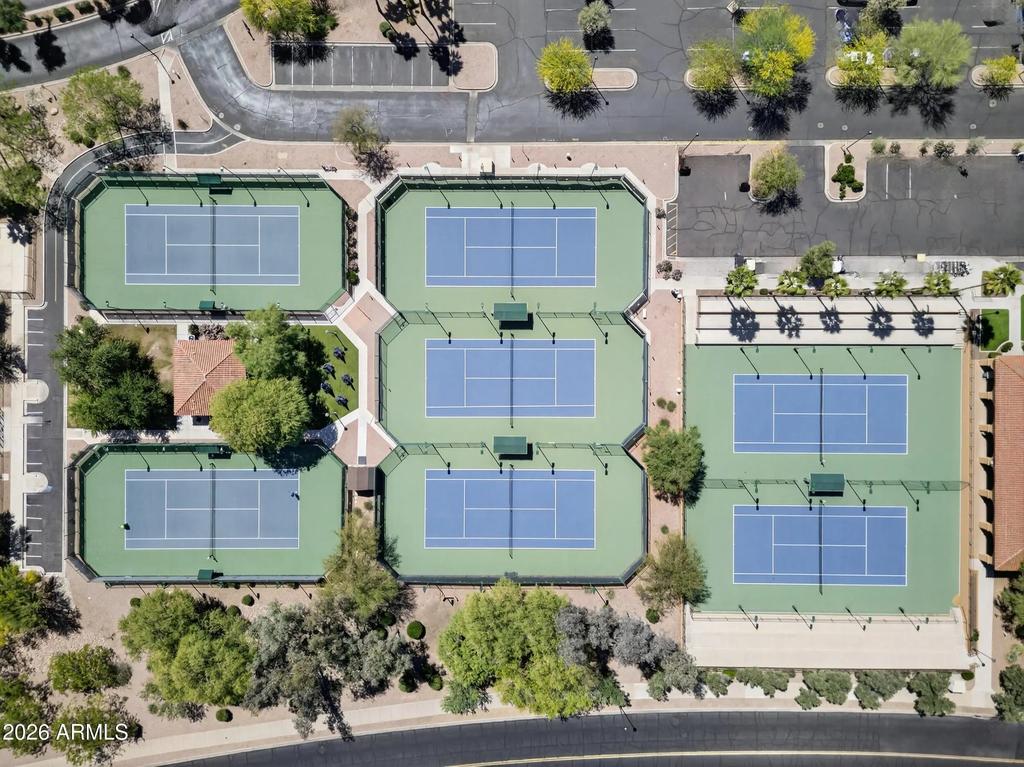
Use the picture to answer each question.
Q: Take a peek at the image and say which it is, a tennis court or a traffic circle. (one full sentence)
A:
The image shows a tennis court.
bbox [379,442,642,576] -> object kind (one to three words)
tennis court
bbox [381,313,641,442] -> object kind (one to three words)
tennis court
